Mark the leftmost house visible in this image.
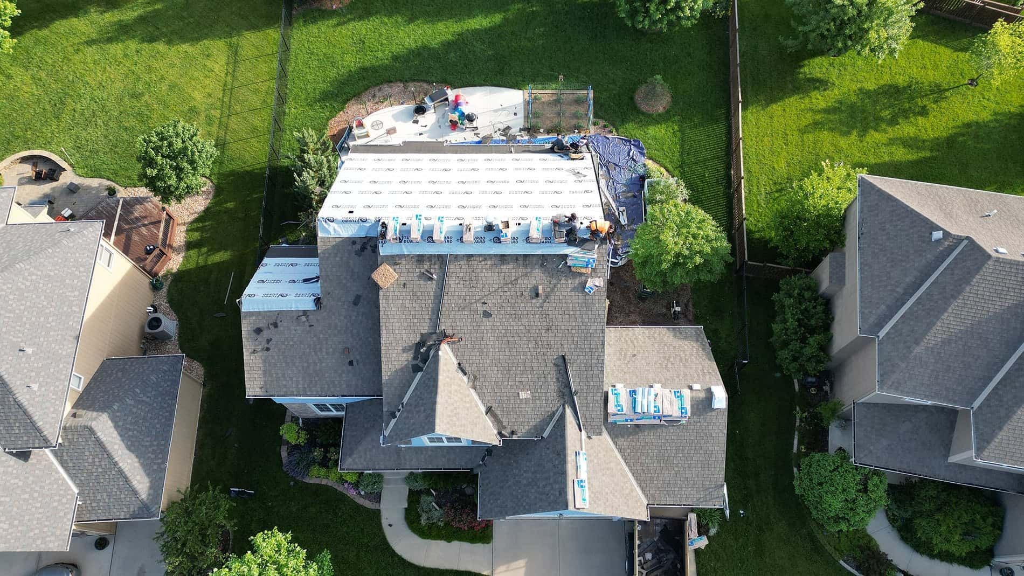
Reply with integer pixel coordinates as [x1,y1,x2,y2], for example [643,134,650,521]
[0,186,207,552]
